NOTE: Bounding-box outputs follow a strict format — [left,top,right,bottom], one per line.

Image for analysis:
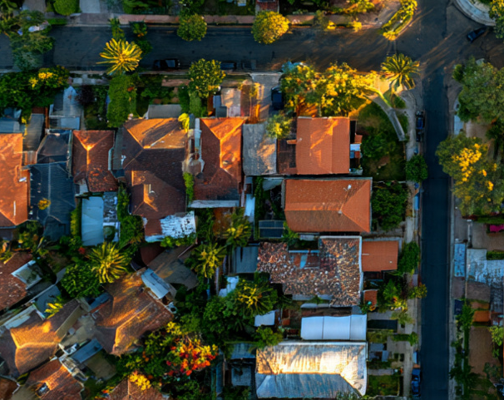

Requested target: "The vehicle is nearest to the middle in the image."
[271,85,284,109]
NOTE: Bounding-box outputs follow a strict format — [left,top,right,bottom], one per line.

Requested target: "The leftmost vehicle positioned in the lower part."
[410,366,423,394]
